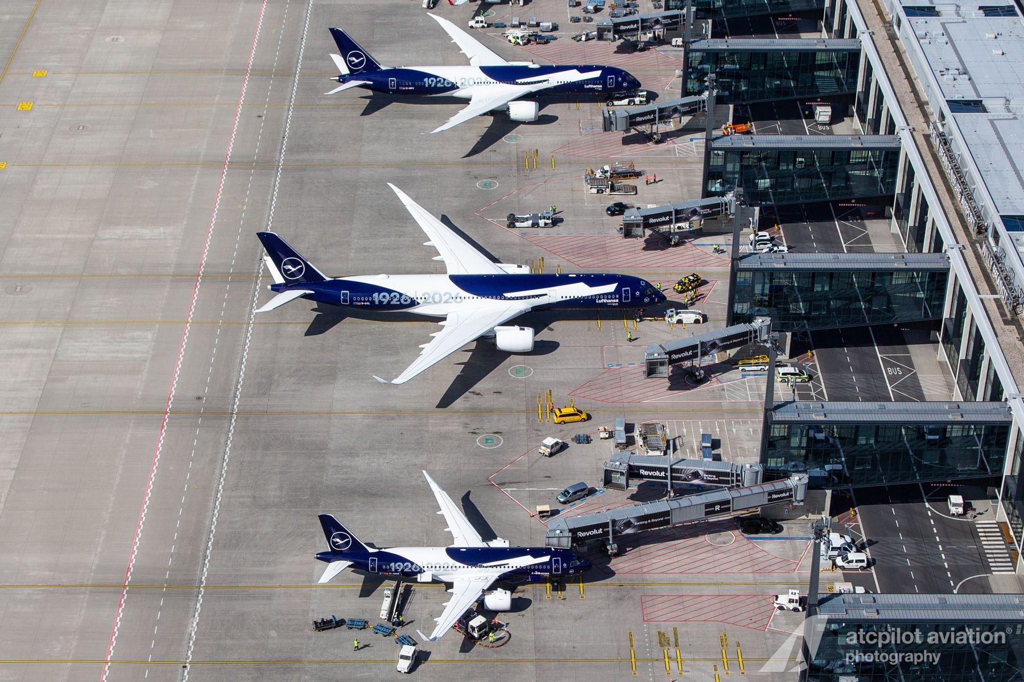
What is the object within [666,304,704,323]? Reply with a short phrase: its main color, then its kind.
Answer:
white work vehicle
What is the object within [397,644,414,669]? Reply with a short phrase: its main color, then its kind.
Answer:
white work vehicle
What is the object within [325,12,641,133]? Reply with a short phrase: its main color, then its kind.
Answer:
white airplane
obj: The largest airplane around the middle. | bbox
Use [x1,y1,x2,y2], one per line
[256,182,668,380]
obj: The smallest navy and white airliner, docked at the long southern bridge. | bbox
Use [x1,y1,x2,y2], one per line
[316,469,591,635]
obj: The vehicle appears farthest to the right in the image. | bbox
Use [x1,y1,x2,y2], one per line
[948,491,965,513]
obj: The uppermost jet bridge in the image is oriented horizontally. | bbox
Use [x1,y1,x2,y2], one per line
[595,10,696,52]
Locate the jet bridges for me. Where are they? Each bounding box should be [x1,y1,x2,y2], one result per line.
[621,194,742,247]
[547,475,811,559]
[643,318,772,384]
[595,10,696,52]
[601,93,717,144]
[601,448,762,503]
